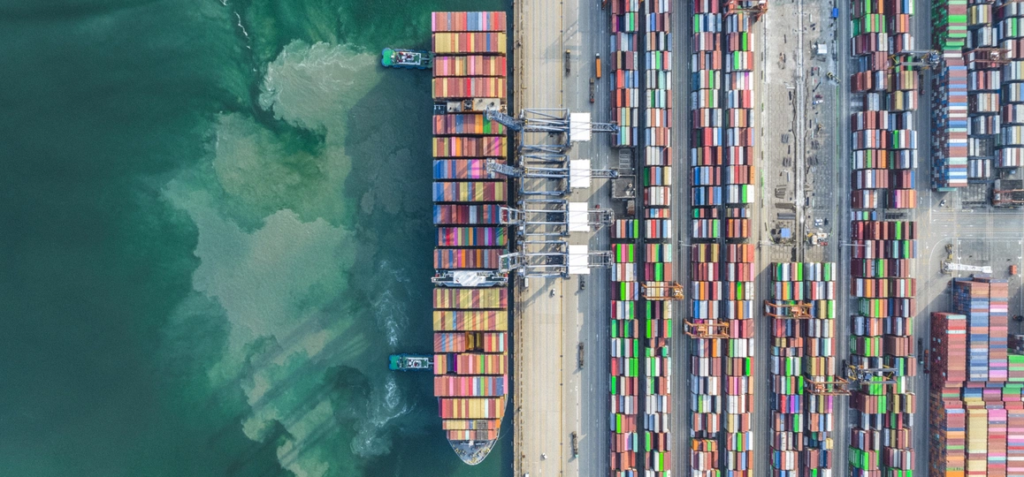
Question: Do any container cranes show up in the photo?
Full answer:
Yes, this view includes a container crane.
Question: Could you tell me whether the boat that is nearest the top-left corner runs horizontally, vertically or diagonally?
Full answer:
From this overhead view, the boat that is nearest the top-left corner appears to run horizontally.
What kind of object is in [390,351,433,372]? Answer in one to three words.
boat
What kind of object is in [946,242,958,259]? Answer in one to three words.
vehicle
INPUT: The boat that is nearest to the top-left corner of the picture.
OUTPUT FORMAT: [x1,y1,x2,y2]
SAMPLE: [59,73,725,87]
[382,48,434,70]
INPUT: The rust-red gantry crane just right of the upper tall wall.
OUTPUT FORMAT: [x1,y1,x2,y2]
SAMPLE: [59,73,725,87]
[963,45,1012,68]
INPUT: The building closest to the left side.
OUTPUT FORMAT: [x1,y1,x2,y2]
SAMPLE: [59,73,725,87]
[609,176,635,199]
